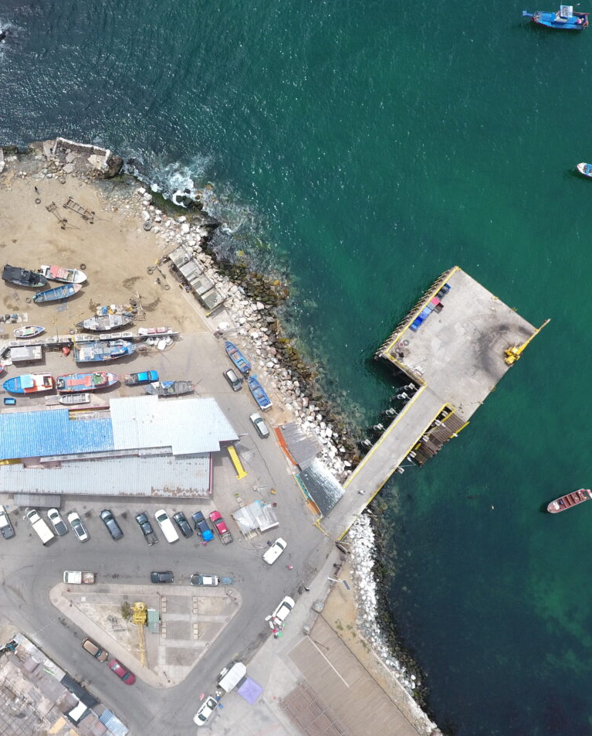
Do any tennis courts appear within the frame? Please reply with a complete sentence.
No, no tennis court is visible in the view.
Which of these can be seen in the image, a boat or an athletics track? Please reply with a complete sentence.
I can see a boat in this picture.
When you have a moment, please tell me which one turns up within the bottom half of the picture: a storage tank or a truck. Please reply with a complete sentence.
It is a truck that can be seen within the bottom half of the picture.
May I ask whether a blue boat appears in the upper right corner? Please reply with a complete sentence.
Yes, there is a blue boat in the upper right corner.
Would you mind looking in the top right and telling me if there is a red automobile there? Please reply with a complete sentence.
No, the scene shows no red automobile in the top right.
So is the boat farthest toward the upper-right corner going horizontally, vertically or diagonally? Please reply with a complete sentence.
The boat farthest toward the upper-right corner is oriented horizontally.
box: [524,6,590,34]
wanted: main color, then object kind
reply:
blue boat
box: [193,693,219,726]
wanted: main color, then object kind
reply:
white car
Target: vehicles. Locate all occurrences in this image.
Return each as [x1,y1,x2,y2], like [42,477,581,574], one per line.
[24,508,54,547]
[136,511,160,547]
[209,509,235,546]
[154,508,181,544]
[101,508,125,542]
[124,370,159,386]
[173,509,195,539]
[151,570,174,583]
[67,511,89,542]
[108,657,137,685]
[0,504,15,540]
[47,507,70,538]
[262,534,287,566]
[193,693,219,726]
[191,509,215,544]
[222,367,243,393]
[268,595,297,631]
[80,635,110,663]
[250,411,271,439]
[217,658,251,698]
